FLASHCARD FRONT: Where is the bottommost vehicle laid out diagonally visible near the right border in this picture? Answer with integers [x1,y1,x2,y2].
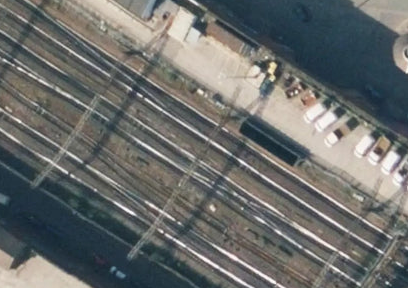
[390,165,408,183]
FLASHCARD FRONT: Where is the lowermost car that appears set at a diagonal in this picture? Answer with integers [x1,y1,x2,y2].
[109,266,127,280]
